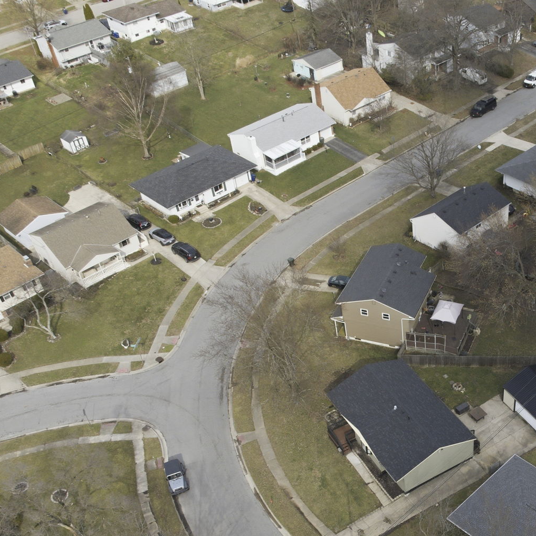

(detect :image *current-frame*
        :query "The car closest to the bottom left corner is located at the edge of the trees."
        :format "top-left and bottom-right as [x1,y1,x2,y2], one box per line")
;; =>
[164,454,190,494]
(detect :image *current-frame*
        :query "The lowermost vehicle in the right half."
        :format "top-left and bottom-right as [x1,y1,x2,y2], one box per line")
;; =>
[326,275,352,289]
